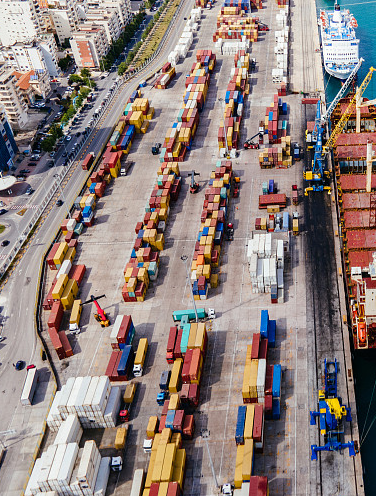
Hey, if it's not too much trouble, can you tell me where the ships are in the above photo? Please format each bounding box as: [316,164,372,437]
[320,0,362,91]
[331,87,376,359]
